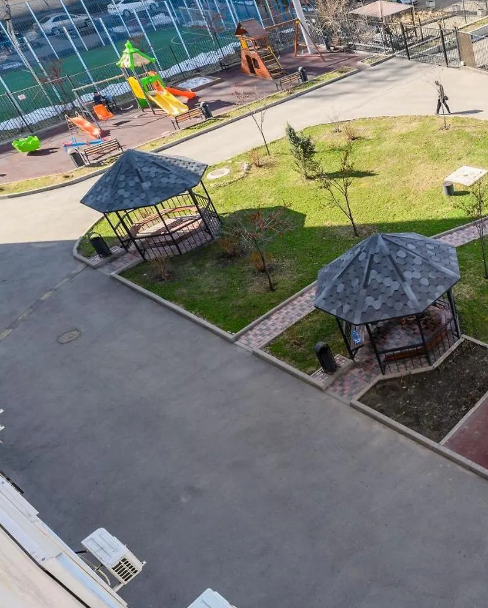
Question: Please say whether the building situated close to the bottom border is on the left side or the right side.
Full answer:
The building situated close to the bottom border appears in the left half of the scene.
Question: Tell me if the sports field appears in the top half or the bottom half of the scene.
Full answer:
The top half of the photo is where the sports field is.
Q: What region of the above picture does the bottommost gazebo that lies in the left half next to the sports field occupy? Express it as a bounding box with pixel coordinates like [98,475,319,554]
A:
[80,146,226,263]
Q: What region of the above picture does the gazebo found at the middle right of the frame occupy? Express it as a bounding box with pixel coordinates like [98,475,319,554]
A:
[314,230,465,378]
